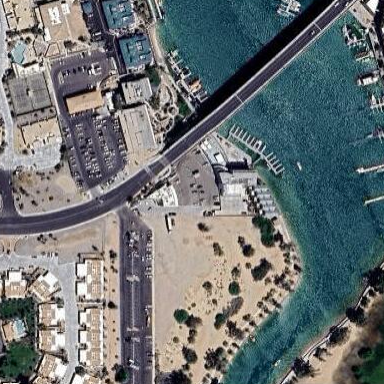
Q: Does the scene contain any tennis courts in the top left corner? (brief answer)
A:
Yes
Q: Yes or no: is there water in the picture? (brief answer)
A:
Yes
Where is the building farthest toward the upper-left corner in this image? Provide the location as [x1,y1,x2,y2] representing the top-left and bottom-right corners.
[3,0,33,30]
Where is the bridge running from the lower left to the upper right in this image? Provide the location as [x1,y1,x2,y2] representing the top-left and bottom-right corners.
[152,0,357,178]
